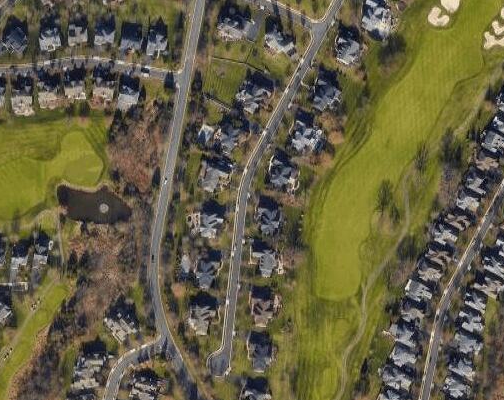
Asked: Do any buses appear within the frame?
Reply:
No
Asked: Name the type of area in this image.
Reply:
residential area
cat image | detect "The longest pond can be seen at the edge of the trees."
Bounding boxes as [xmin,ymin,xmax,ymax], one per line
[57,184,132,225]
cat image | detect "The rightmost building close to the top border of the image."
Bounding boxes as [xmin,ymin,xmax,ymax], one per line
[361,0,397,37]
